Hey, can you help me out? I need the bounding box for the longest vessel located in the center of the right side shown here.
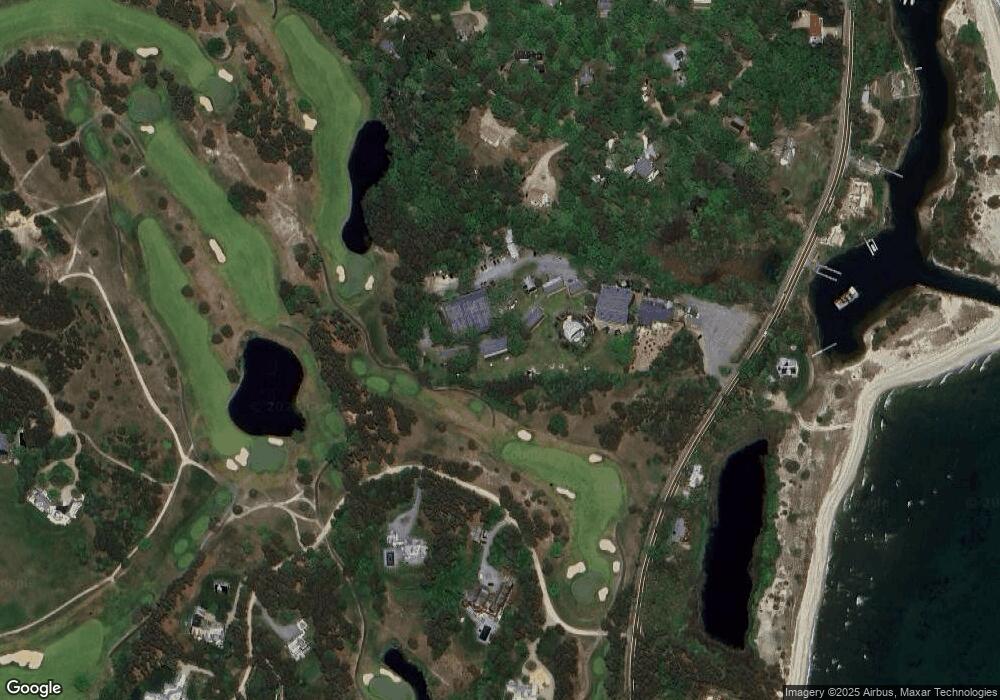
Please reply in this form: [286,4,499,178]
[835,287,860,309]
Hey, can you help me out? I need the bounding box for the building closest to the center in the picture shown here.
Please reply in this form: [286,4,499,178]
[479,336,508,359]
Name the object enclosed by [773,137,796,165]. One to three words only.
house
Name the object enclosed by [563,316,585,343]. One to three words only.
building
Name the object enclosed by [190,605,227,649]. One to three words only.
house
